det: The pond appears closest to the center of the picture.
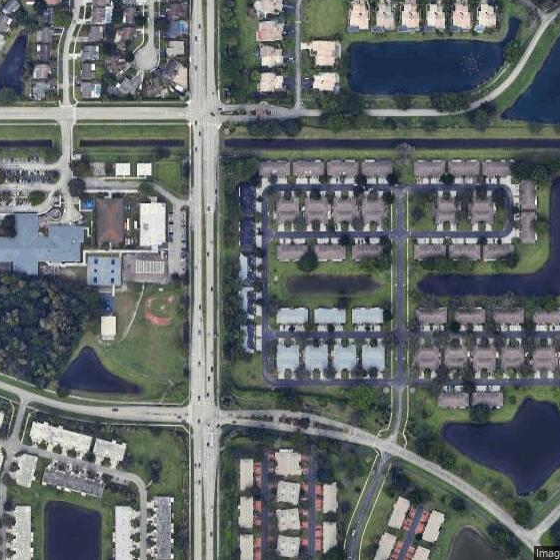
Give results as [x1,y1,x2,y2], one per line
[287,275,379,295]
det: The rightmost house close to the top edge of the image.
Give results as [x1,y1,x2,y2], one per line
[475,5,496,32]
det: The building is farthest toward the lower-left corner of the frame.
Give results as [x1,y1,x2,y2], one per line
[14,506,32,560]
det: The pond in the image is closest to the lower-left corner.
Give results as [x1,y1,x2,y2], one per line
[45,502,102,560]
